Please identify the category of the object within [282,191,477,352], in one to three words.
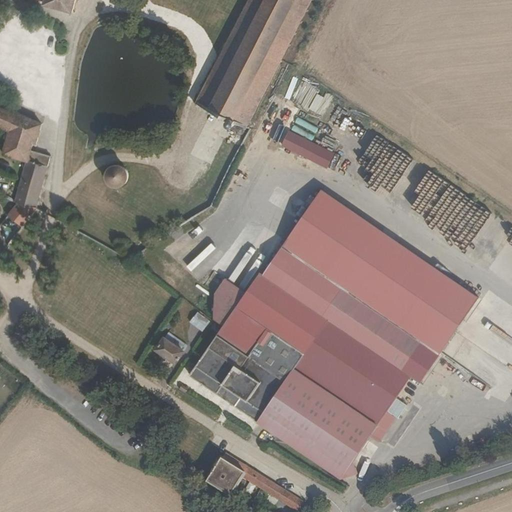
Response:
warehouse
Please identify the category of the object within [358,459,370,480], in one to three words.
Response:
vehicle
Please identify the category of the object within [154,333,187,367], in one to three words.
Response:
house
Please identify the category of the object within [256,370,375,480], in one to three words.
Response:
building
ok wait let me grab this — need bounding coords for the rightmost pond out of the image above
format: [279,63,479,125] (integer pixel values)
[76,14,186,144]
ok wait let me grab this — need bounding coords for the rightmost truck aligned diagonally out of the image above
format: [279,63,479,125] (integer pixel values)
[484,320,512,342]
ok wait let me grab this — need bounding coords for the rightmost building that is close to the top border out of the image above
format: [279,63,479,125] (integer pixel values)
[196,0,308,124]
